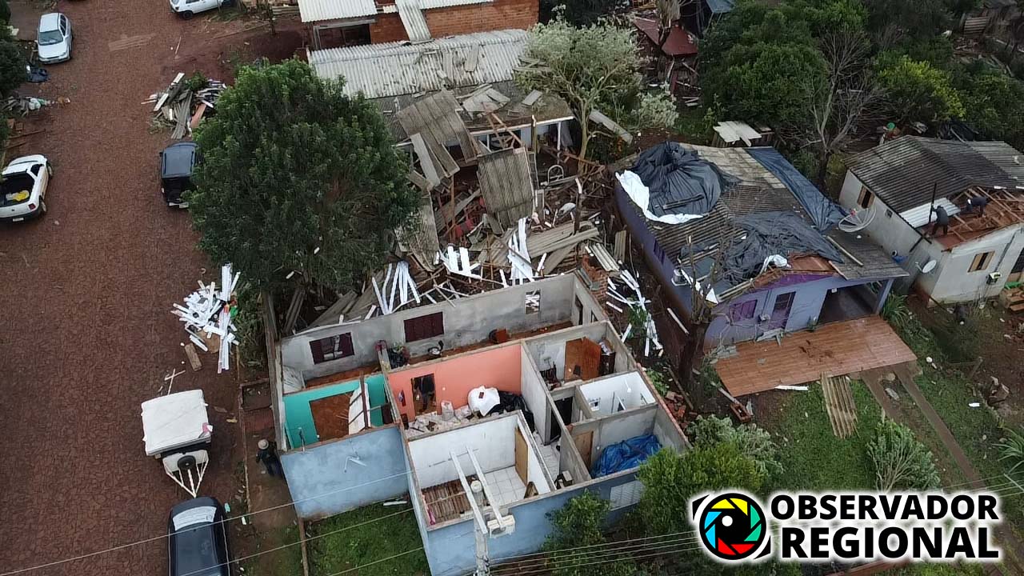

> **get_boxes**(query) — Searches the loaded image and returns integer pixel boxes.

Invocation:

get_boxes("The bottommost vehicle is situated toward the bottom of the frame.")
[165,486,235,576]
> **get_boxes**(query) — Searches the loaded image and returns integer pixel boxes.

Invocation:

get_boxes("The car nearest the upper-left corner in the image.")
[29,15,72,60]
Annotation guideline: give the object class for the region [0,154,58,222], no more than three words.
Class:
truck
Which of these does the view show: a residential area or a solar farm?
residential area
